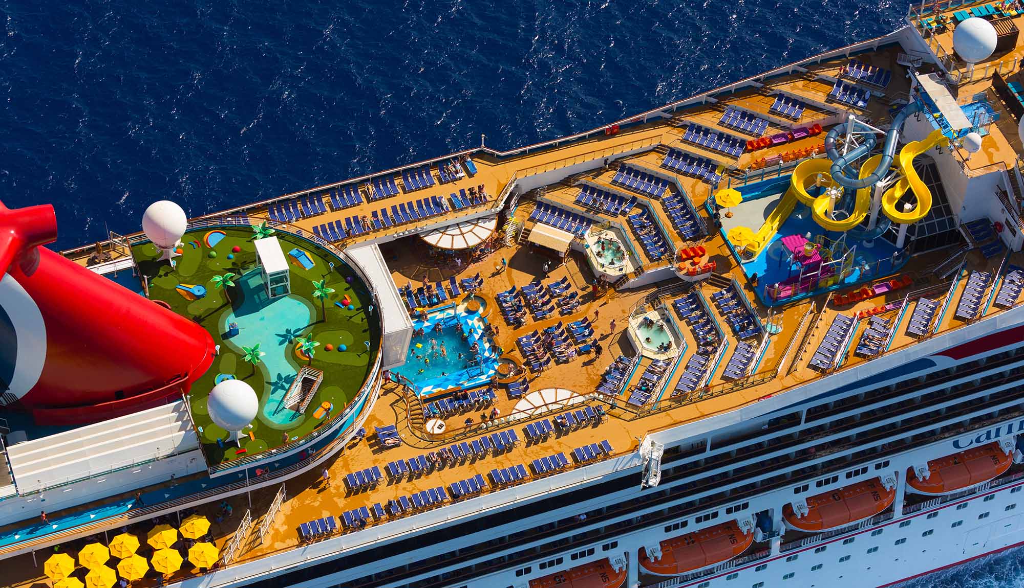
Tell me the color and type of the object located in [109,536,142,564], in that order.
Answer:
yellow umbrella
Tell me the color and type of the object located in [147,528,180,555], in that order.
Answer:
yellow umbrella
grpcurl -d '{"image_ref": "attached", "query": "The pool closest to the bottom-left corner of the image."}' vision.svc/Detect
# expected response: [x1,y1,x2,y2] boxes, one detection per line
[383,304,500,403]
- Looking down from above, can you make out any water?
Yes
